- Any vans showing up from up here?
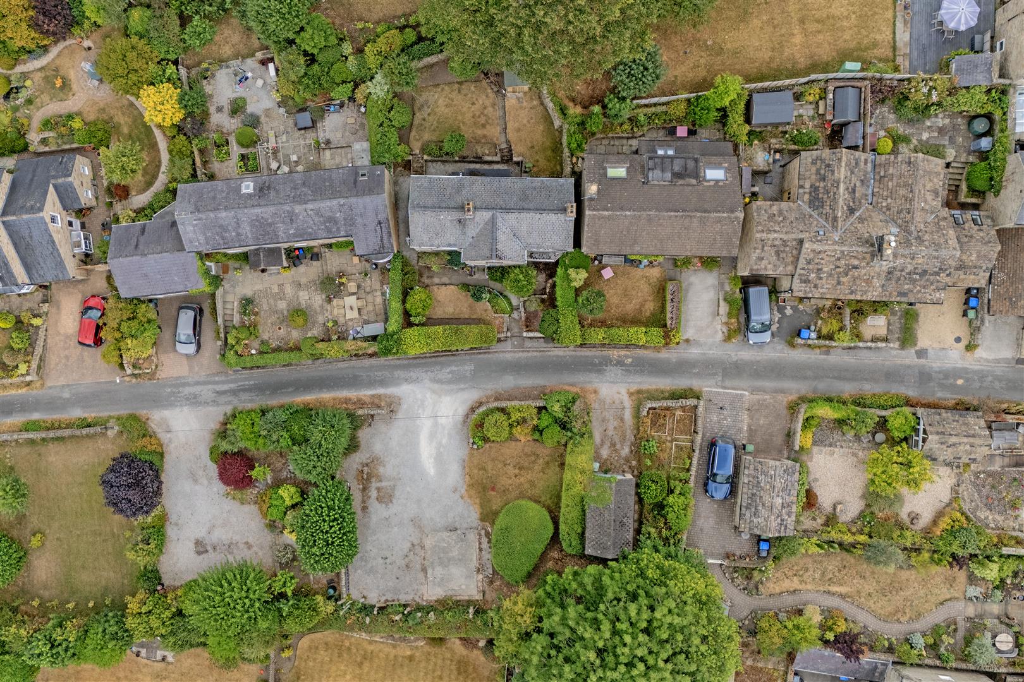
Yes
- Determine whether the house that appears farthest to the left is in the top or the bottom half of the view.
top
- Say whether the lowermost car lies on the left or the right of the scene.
right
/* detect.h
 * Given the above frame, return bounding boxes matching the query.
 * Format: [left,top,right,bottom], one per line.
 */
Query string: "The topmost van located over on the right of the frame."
[741,285,774,344]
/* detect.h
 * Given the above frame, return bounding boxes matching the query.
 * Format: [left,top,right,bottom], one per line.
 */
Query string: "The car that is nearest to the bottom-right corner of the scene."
[705,436,736,499]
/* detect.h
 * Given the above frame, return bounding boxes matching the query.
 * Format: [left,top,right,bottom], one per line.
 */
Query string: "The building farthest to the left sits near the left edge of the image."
[0,152,105,297]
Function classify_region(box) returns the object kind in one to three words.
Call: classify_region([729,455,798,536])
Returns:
building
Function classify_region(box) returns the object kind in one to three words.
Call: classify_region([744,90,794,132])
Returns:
shed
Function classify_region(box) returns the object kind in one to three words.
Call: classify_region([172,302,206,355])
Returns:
car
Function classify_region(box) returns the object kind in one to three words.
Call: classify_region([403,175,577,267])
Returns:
house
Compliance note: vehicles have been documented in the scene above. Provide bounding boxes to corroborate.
[741,285,774,344]
[76,296,110,348]
[172,302,206,355]
[705,436,736,499]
